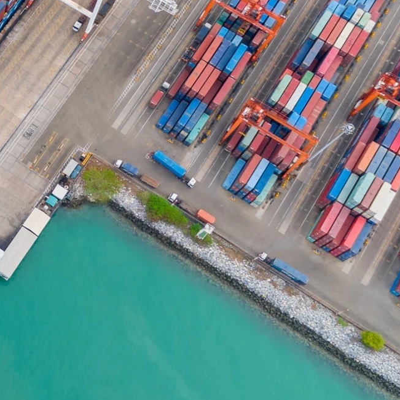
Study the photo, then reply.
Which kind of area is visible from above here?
port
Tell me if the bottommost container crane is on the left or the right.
right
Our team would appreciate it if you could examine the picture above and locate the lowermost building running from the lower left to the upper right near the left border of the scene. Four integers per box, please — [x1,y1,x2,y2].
[0,226,37,278]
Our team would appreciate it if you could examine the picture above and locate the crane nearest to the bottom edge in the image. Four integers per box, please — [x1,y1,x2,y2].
[219,98,323,182]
